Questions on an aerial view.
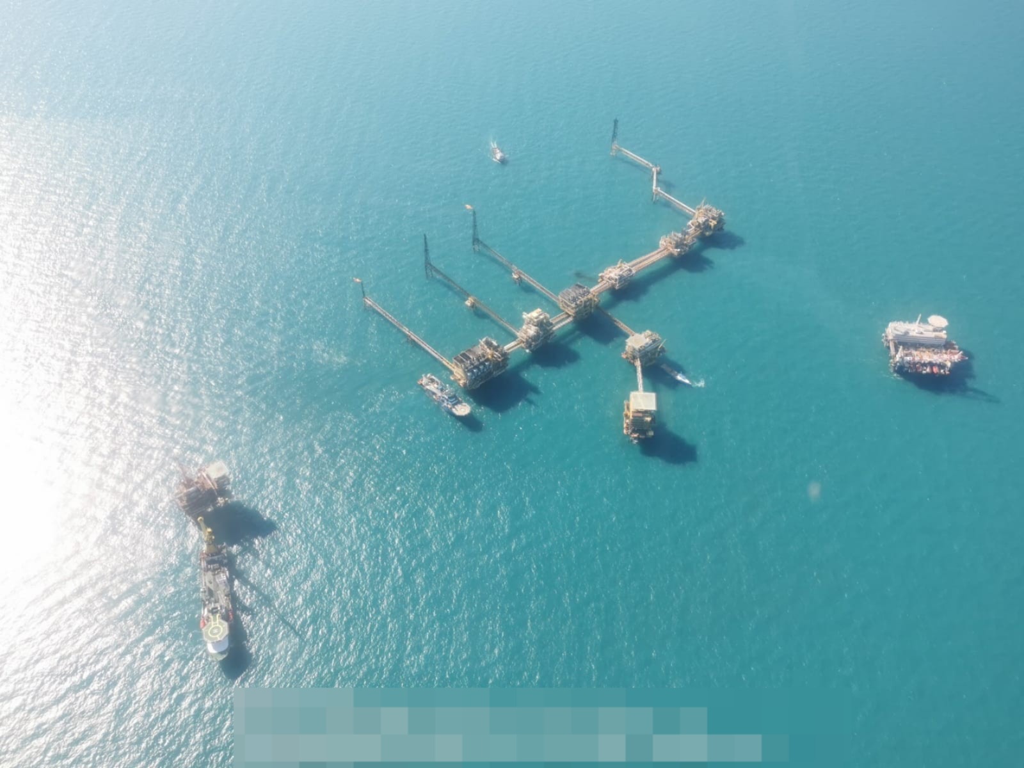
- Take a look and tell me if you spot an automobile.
No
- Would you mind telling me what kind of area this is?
port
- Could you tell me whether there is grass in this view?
No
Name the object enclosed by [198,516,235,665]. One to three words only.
ship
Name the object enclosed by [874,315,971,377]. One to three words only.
ship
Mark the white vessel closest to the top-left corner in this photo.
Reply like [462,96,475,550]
[491,146,504,161]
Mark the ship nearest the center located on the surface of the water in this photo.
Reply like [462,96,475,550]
[418,366,474,415]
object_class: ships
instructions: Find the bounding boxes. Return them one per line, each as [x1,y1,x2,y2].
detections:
[418,366,474,415]
[657,360,695,387]
[491,146,504,161]
[198,516,235,665]
[874,315,971,377]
